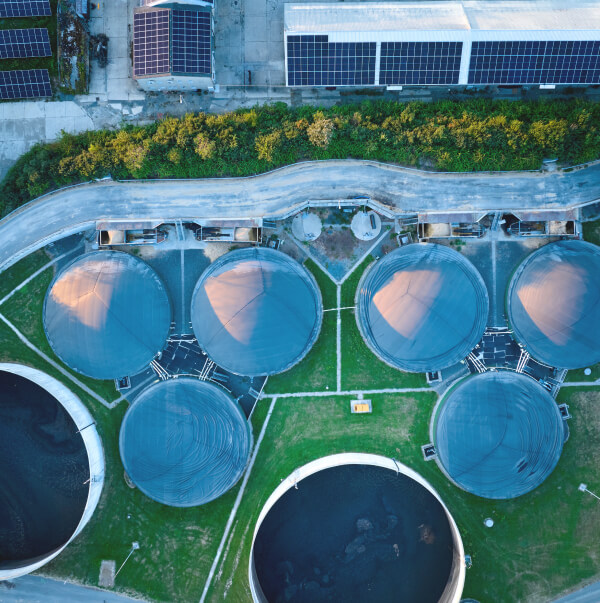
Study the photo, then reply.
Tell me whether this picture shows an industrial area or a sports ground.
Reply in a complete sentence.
It's an industrial area.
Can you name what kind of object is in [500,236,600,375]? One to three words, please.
storage tank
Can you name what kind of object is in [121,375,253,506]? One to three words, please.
storage tank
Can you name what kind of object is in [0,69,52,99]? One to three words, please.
solar array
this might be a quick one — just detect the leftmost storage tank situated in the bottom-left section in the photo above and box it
[0,365,105,580]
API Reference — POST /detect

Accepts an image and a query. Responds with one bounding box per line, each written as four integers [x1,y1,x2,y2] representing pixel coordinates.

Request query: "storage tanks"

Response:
[41,248,177,380]
[250,452,466,603]
[355,241,490,374]
[350,206,382,241]
[293,207,323,242]
[121,375,253,506]
[191,244,324,377]
[428,367,565,501]
[0,365,105,580]
[500,236,600,375]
